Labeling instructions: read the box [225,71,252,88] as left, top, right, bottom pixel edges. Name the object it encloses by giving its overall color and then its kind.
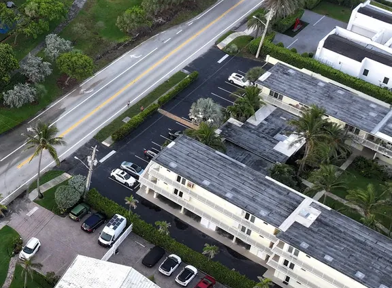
white car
